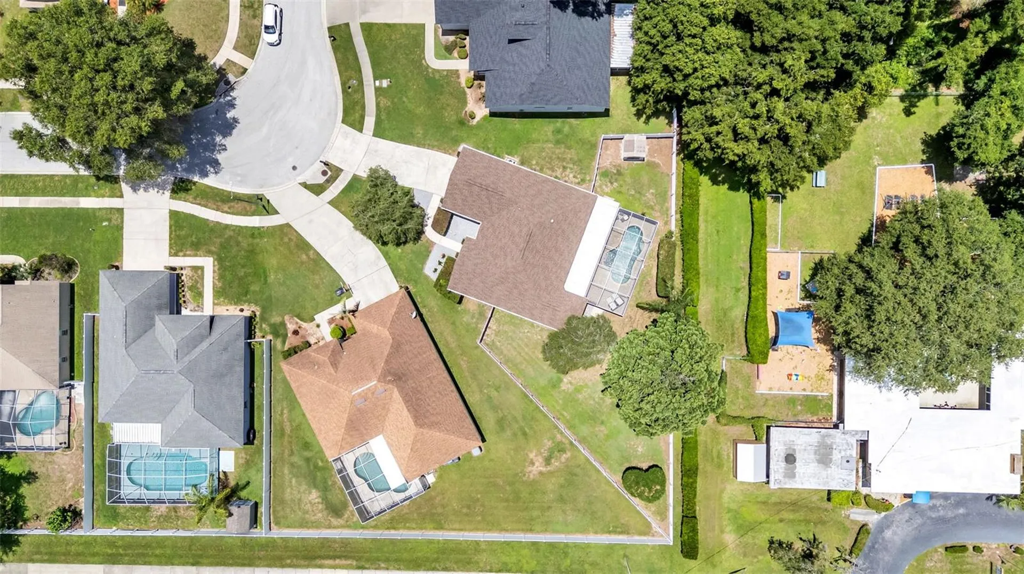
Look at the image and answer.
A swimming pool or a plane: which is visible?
swimming pool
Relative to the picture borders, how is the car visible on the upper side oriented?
from top to bottom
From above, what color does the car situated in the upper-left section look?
white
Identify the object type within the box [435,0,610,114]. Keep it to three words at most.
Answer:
house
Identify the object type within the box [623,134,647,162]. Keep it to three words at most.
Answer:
shed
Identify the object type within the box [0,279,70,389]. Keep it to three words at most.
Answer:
house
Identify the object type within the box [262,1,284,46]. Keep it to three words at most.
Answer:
car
